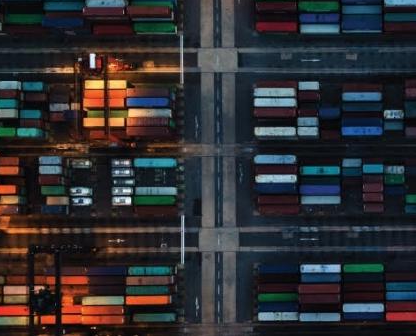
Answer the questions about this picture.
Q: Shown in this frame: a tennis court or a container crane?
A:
container crane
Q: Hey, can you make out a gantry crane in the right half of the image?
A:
No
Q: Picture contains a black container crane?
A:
Yes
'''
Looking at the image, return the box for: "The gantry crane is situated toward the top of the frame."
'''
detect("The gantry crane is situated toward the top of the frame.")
[74,49,138,150]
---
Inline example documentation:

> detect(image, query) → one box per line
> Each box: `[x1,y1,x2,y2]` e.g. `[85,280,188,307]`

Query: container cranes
[74,49,138,150]
[26,245,95,336]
